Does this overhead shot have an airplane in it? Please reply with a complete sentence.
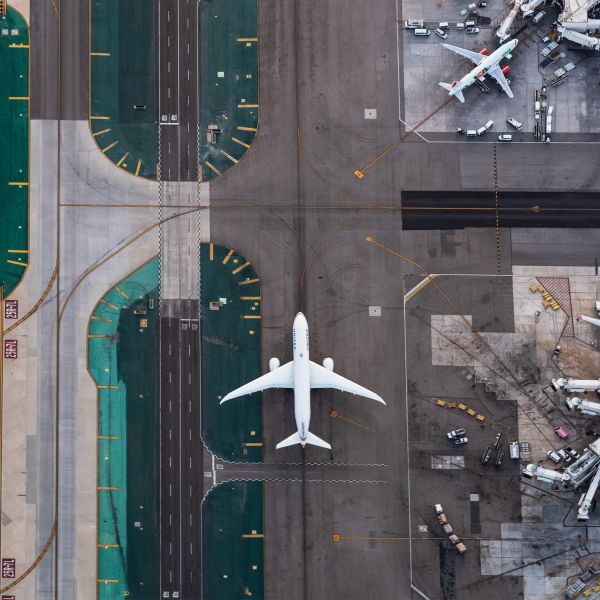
Yes, an airplane appears in the view.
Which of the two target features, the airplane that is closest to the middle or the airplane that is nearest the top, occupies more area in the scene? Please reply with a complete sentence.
The airplane that is closest to the middle covers a greater area than the airplane that is nearest the top.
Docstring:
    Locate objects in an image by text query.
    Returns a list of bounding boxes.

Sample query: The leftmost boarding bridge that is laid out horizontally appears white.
[523,463,572,488]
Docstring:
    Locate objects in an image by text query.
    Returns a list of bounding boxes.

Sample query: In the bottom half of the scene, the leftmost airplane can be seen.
[219,312,384,451]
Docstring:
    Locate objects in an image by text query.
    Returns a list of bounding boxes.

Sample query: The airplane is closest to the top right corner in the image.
[442,40,517,104]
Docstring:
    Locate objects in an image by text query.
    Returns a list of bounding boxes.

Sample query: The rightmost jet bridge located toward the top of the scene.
[554,25,599,52]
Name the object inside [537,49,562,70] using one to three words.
work vehicle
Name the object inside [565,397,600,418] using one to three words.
jet bridge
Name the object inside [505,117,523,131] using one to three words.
vehicle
